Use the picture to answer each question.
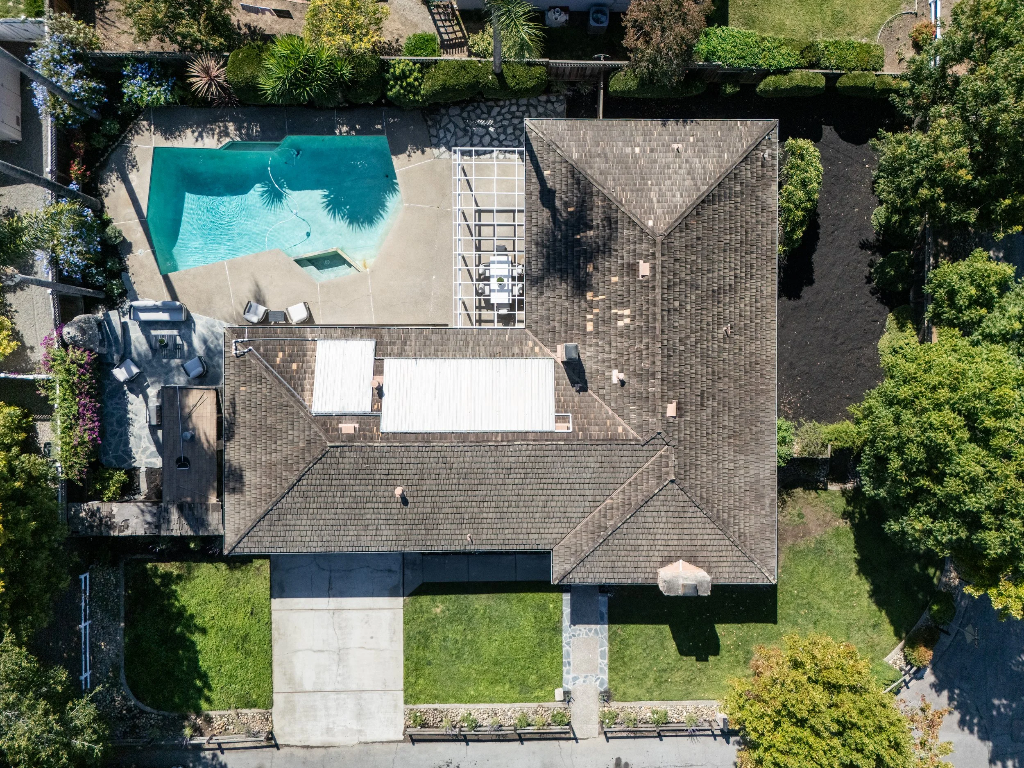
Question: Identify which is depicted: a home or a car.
home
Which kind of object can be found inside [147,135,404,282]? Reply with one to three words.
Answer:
swimming pool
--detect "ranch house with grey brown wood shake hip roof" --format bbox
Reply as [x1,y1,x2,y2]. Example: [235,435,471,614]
[220,115,781,596]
